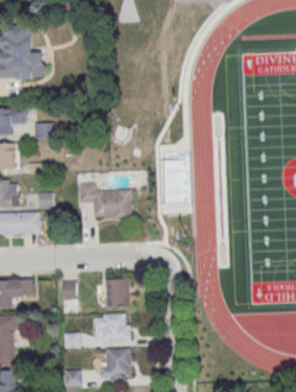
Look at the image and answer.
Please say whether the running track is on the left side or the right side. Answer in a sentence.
The running track sits on the right side.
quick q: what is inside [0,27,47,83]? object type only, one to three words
house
